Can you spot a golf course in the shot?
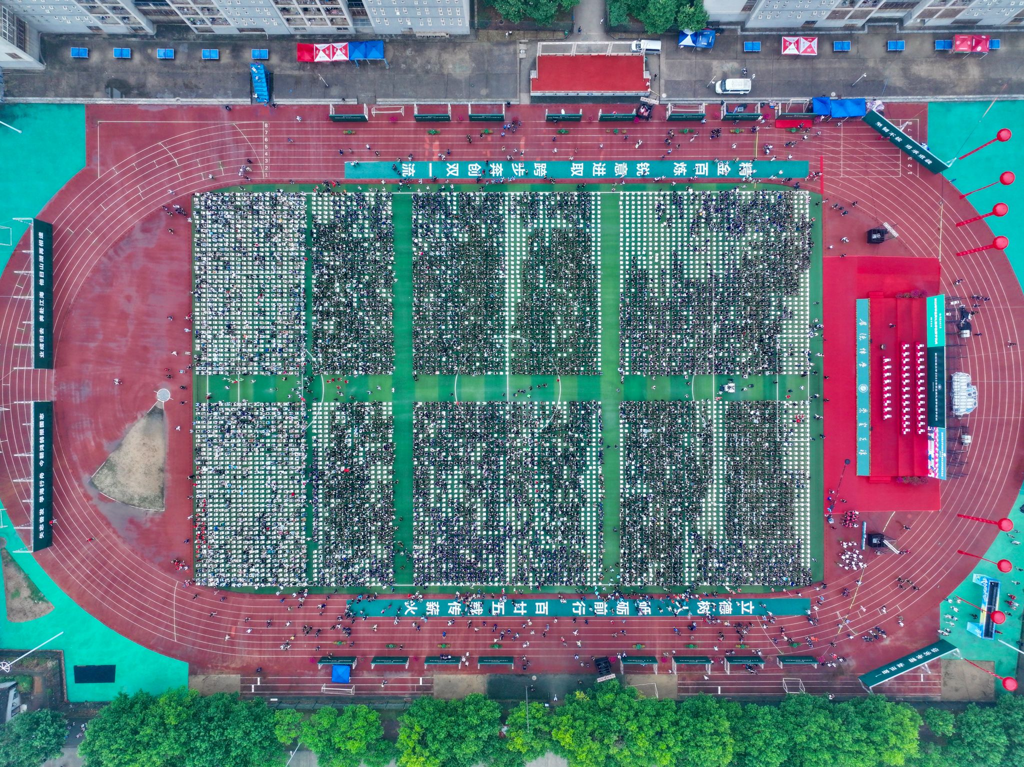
No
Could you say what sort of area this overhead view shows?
sports ground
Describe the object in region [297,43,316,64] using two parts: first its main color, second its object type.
red tent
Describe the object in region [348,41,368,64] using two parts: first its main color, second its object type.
blue tent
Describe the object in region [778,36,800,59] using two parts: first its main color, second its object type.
white tent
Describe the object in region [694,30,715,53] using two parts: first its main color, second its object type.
blue tent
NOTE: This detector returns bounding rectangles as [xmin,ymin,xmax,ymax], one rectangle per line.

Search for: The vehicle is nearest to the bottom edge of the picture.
[716,78,752,94]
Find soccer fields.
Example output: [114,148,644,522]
[191,184,823,594]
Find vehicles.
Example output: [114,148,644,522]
[716,78,752,94]
[631,40,661,56]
